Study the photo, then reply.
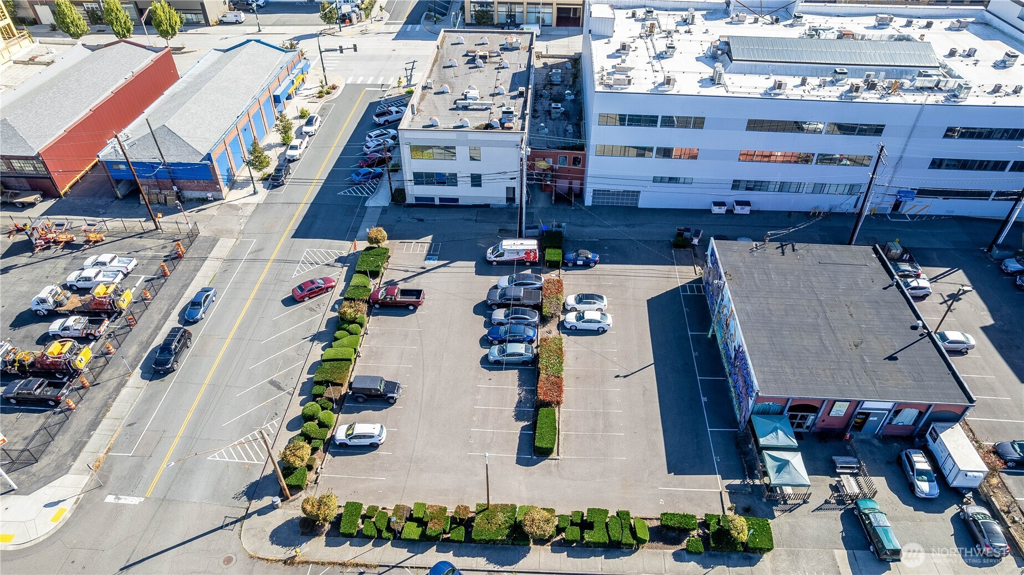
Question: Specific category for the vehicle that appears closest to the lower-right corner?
car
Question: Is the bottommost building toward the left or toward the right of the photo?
right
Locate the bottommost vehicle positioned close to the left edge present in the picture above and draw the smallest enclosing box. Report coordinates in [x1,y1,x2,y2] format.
[2,378,76,406]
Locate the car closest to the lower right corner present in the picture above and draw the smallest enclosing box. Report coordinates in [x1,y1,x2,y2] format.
[958,503,1014,564]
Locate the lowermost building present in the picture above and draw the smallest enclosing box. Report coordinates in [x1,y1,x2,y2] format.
[702,236,982,444]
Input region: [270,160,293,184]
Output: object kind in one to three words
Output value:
car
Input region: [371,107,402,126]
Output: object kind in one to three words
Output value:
vehicle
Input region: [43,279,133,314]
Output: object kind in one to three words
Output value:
truck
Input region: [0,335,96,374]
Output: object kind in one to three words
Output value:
truck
